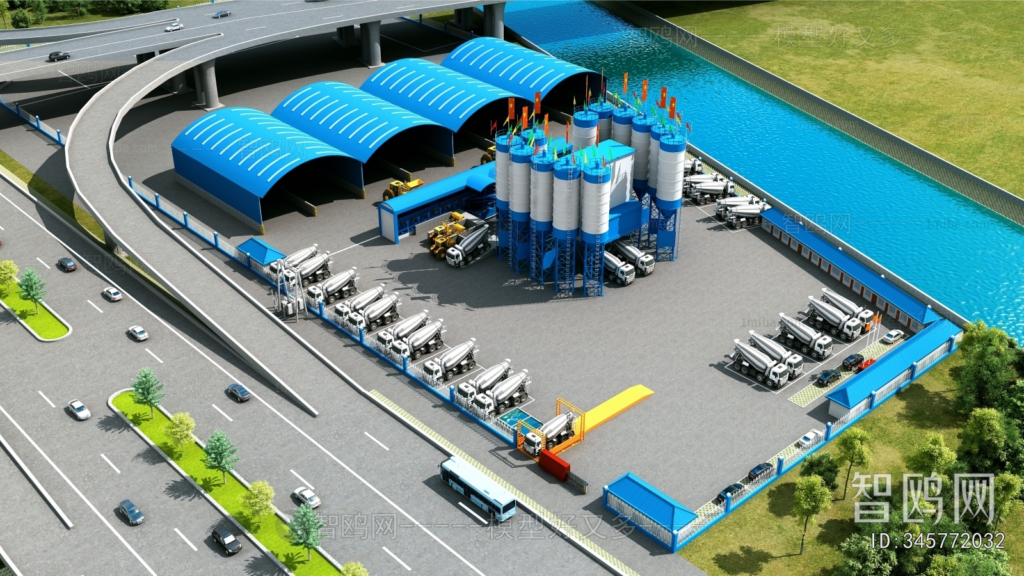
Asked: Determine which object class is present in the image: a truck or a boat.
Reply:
truck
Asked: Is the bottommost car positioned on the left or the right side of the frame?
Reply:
left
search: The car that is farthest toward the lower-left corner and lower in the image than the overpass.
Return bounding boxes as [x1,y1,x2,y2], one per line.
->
[118,498,145,524]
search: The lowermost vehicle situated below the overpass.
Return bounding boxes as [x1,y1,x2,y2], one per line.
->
[212,524,241,554]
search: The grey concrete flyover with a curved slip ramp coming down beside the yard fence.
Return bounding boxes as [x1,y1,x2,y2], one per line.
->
[0,0,537,418]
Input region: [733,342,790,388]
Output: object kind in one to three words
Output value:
truck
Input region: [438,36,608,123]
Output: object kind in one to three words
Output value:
shed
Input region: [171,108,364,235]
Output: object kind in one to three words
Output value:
shed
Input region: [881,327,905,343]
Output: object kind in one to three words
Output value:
car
